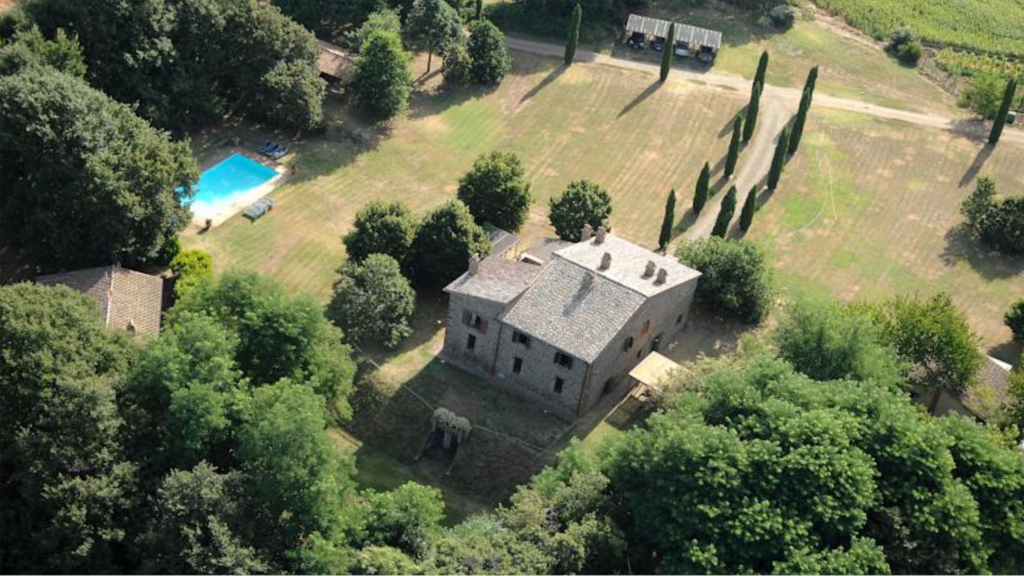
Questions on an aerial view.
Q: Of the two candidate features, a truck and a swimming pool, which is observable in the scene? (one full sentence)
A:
This aerial view contains a swimming pool.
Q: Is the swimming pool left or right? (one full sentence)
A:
The swimming pool appears in the left half of the scene.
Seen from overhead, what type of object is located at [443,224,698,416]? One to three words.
house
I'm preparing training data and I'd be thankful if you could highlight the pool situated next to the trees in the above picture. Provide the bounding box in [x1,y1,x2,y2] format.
[179,150,285,214]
